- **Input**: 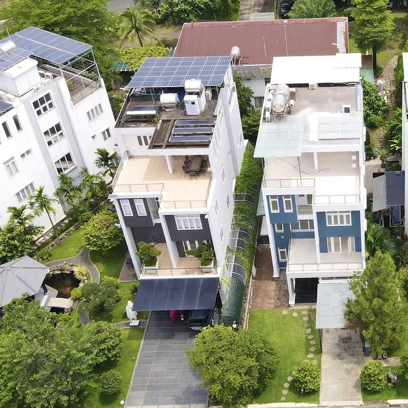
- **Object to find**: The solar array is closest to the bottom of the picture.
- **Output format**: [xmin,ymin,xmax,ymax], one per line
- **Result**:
[124,54,228,105]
